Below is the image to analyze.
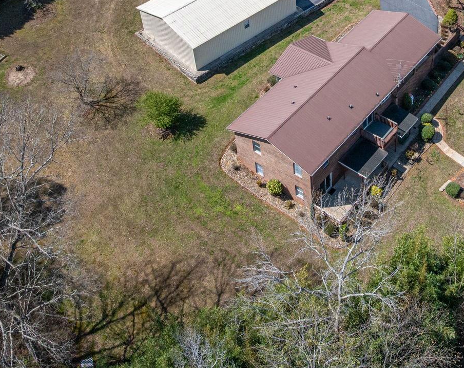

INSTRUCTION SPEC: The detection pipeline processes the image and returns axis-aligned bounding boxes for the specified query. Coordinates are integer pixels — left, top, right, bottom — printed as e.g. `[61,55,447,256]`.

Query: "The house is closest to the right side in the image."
[226,10,442,205]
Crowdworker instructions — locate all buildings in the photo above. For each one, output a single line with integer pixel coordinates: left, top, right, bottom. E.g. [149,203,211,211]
[136,0,298,71]
[226,10,442,205]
